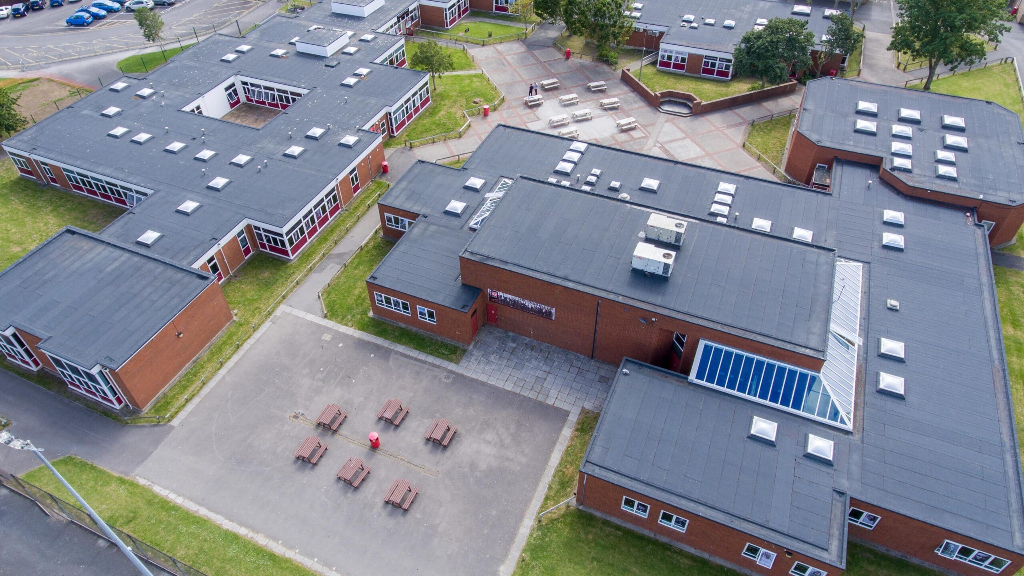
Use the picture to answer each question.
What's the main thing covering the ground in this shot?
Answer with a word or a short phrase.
buildings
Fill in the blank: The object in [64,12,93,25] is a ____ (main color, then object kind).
blue vehicle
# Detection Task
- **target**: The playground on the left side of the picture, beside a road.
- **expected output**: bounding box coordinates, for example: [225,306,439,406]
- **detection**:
[132,312,570,576]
